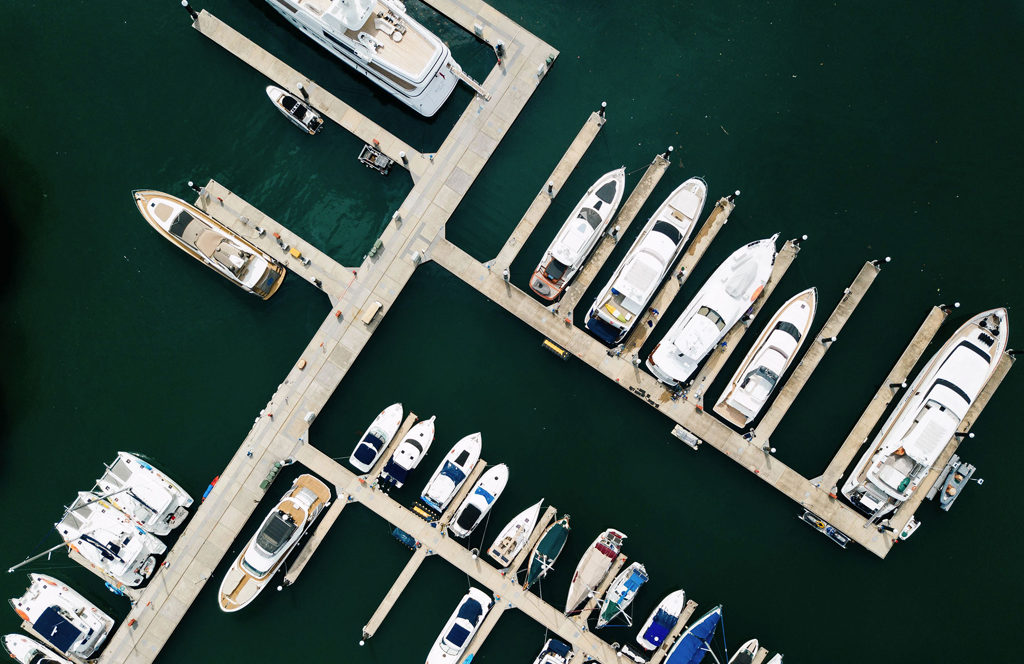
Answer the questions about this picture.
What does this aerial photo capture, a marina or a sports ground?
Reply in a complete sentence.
What you see here is a marina.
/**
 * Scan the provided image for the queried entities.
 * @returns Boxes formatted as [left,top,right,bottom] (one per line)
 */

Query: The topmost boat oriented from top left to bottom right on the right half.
[606,305,626,323]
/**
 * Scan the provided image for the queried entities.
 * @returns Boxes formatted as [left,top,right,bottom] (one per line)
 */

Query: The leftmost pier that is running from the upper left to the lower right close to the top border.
[192,9,437,185]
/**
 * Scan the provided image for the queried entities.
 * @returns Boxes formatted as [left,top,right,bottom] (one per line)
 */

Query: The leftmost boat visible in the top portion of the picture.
[129,188,289,302]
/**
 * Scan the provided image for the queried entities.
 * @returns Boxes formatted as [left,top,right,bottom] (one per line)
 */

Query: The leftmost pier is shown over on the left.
[20,621,99,664]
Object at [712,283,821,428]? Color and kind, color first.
white boat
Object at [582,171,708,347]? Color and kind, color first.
white boat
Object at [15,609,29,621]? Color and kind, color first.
orange boat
